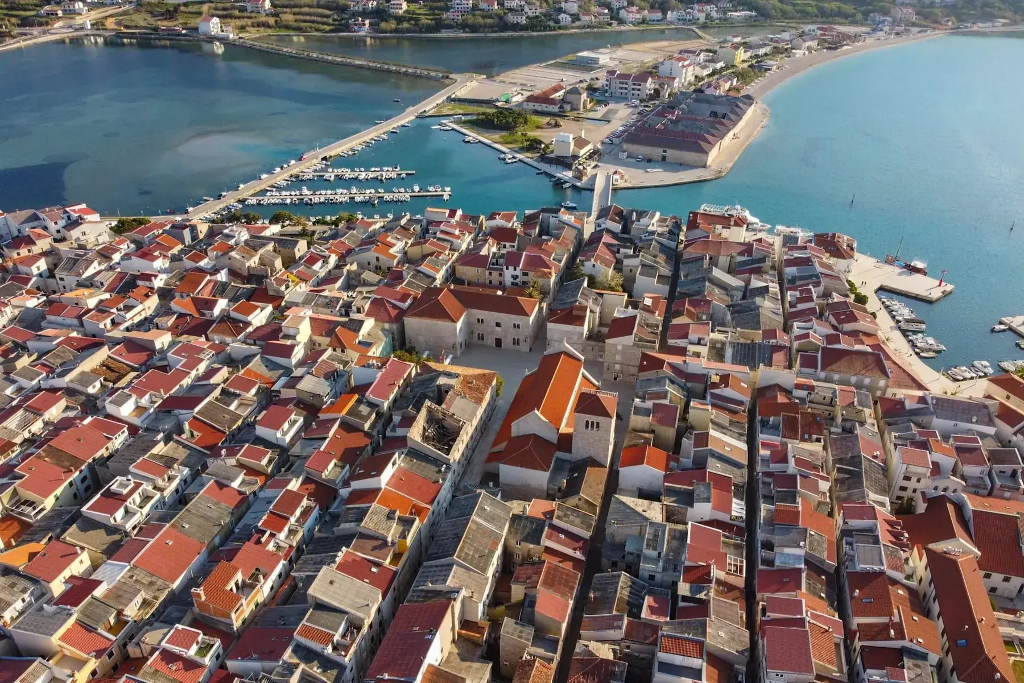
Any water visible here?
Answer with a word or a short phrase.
Yes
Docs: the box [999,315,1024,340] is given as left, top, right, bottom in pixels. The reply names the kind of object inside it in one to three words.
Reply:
pier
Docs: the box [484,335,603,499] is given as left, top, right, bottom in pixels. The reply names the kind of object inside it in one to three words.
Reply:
building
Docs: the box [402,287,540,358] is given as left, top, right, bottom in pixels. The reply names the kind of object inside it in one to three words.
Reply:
building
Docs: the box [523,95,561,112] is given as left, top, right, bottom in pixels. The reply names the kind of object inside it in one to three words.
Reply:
house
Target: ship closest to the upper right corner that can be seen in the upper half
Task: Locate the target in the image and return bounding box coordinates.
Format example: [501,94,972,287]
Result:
[884,236,930,273]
